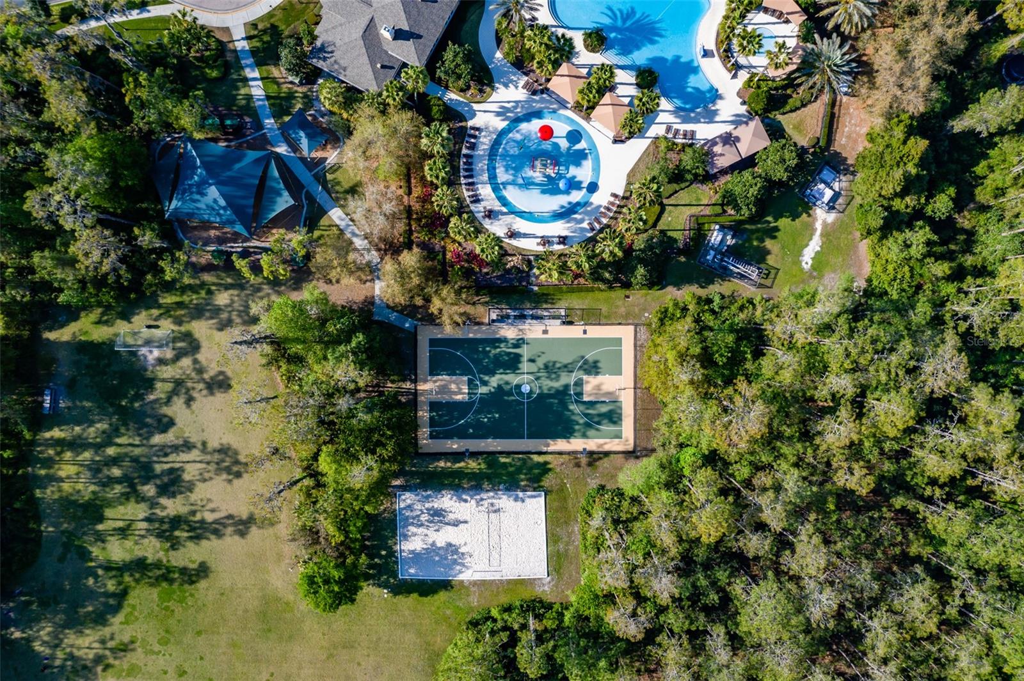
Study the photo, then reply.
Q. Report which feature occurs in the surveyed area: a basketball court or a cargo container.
basketball court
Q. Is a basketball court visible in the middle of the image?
Yes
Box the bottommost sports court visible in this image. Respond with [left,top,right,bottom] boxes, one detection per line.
[397,491,548,580]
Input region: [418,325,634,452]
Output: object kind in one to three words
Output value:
basketball court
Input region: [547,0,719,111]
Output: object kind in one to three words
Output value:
swimming pool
